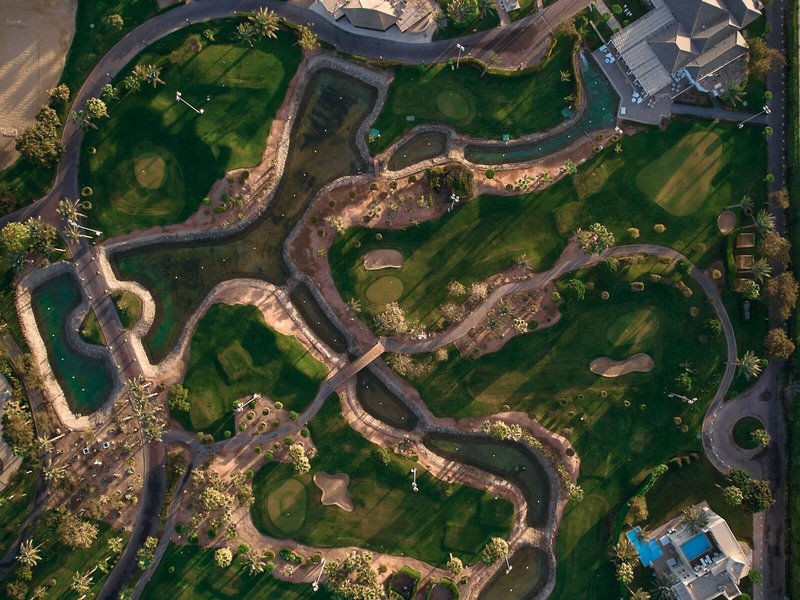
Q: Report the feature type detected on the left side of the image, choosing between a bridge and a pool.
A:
bridge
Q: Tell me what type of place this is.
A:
golf course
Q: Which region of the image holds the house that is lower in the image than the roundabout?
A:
bottom right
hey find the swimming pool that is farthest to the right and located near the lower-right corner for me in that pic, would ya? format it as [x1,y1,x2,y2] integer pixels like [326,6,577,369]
[680,532,712,562]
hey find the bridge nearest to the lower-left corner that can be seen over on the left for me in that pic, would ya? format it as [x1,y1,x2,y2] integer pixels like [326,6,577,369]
[76,260,141,380]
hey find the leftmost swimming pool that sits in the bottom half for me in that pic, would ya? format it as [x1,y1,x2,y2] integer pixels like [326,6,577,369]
[626,527,664,568]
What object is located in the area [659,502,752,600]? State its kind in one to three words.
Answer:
house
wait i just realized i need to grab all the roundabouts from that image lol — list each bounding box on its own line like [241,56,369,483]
[731,416,766,451]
